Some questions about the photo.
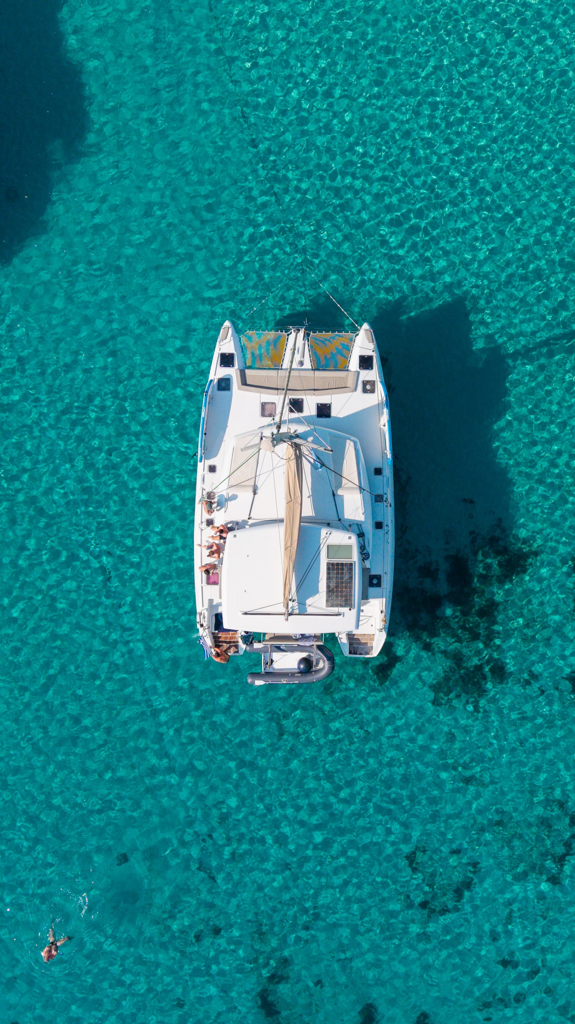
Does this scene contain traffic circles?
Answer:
No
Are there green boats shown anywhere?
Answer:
No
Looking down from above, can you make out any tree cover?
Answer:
No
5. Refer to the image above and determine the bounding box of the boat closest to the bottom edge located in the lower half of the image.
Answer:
[248,641,335,685]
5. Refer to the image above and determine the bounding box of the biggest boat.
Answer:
[194,318,395,669]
